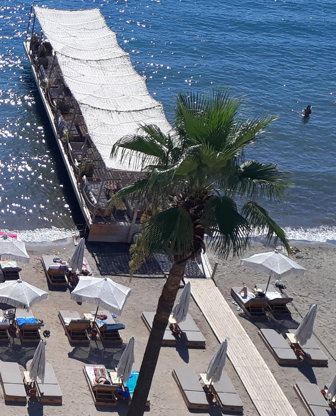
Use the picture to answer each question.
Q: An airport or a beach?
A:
beach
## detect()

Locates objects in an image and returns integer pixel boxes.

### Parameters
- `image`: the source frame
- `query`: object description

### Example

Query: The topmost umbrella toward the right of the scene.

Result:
[237,241,313,290]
